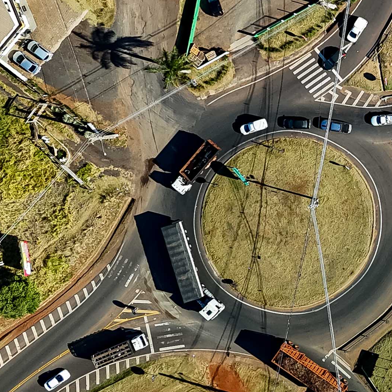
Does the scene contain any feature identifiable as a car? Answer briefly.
Yes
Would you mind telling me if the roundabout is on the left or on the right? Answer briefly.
right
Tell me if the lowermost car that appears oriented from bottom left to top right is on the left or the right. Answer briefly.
left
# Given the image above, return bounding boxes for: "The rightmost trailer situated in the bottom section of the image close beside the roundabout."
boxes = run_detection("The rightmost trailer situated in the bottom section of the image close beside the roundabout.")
[273,342,351,392]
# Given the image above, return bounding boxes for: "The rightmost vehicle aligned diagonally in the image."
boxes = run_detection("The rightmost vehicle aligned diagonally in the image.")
[345,15,370,45]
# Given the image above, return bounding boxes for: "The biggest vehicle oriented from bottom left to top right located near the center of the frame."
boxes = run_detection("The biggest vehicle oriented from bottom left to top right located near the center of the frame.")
[170,143,215,192]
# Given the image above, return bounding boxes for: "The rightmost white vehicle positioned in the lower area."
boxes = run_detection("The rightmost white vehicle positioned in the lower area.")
[198,278,225,321]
